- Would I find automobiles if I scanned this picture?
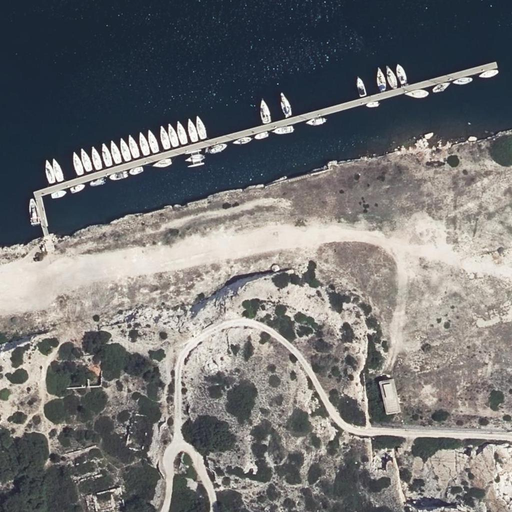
No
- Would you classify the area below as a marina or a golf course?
marina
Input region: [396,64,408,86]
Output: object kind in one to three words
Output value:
boat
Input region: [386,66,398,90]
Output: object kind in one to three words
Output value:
boat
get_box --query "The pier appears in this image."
[32,62,498,239]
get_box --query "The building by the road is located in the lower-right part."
[380,380,402,416]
